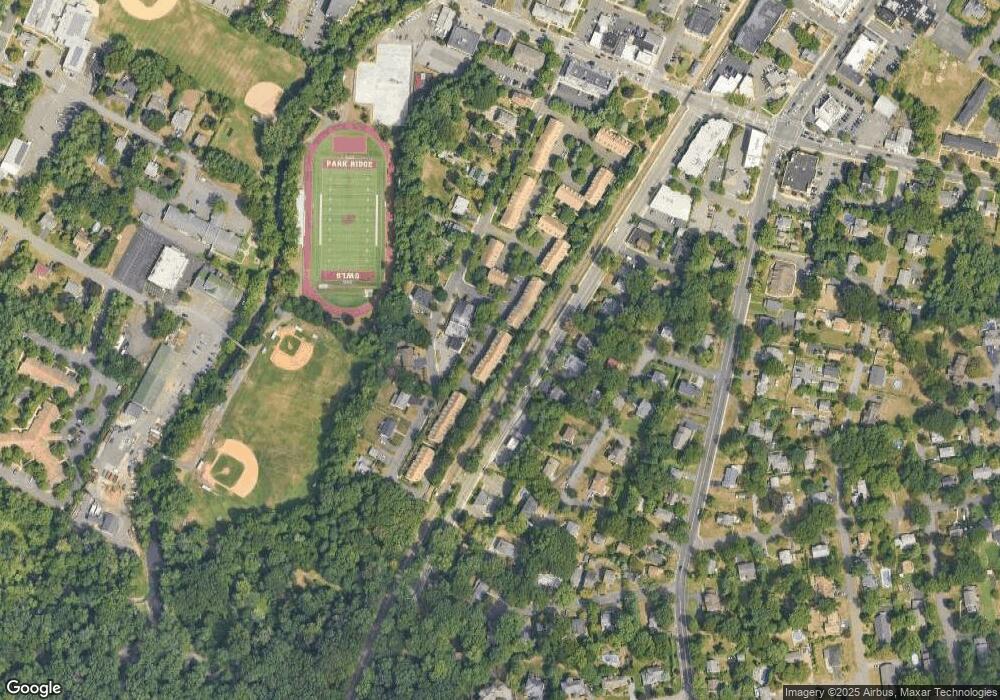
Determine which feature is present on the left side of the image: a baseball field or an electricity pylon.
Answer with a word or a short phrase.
baseball field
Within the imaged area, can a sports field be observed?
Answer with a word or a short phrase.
Yes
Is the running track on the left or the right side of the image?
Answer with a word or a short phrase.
left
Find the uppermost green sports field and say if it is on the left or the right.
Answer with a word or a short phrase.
left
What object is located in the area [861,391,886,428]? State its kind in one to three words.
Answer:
house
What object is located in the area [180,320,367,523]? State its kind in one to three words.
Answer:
baseball field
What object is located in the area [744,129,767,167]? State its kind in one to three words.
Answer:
building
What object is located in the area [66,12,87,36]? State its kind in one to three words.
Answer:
solar array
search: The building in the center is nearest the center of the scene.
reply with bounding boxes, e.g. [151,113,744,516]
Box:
[474,331,513,384]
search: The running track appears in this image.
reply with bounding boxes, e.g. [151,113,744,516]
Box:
[304,121,396,317]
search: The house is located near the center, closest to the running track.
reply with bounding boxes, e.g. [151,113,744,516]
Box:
[410,282,439,309]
